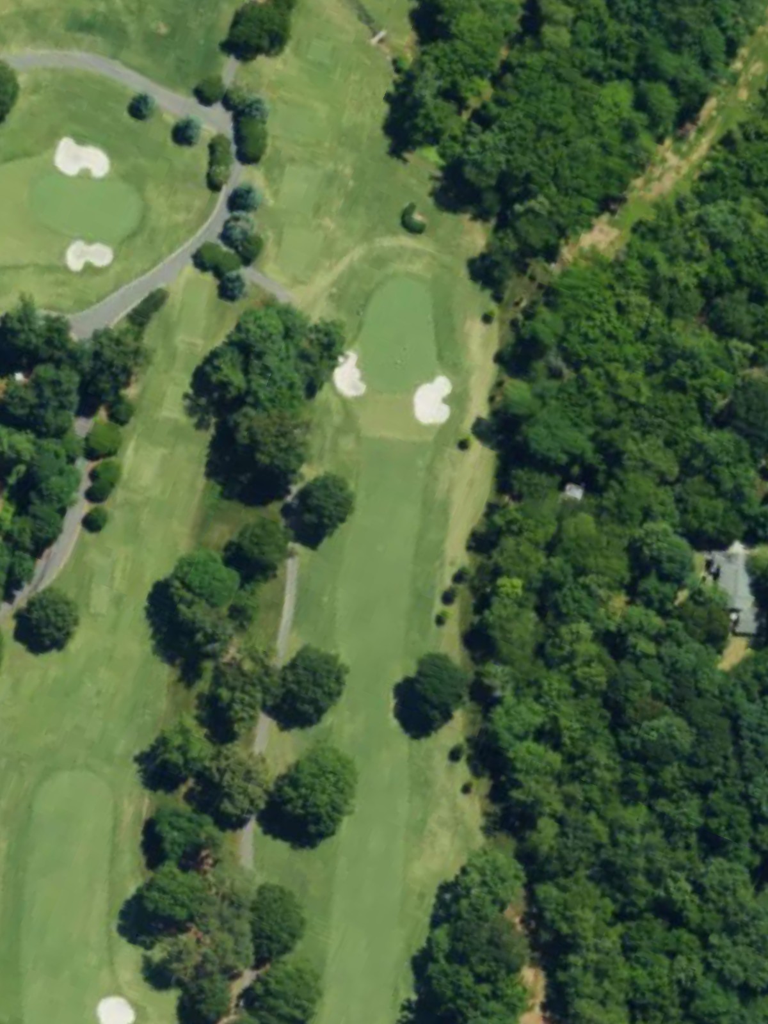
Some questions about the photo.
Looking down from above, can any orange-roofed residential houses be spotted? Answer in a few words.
No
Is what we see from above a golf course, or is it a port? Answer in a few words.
golf course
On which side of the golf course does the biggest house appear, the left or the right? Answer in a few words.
right of it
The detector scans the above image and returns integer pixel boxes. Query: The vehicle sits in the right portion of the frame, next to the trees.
[705,562,720,579]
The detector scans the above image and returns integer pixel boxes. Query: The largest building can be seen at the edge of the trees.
[707,541,762,634]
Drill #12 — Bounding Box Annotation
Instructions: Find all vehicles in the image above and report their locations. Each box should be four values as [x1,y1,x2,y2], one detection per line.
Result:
[705,562,720,579]
[14,371,22,381]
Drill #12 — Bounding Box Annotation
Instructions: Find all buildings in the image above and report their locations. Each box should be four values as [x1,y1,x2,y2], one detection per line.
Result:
[707,541,762,634]
[564,484,585,500]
